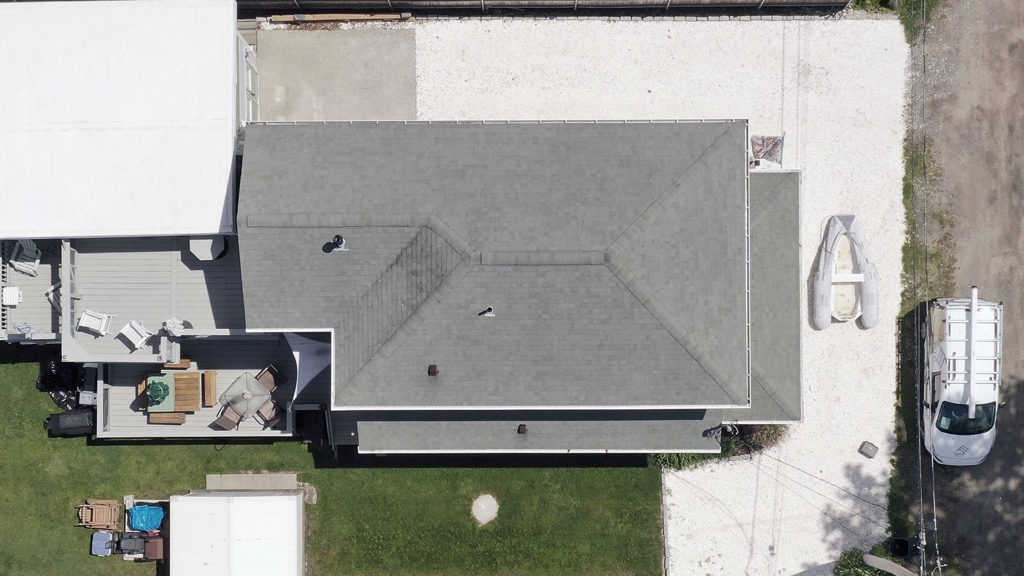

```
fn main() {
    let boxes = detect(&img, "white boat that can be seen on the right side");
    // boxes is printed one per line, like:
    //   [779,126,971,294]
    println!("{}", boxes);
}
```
[815,214,878,329]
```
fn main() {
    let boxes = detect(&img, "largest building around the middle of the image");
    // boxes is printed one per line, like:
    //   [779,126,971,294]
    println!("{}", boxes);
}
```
[238,119,802,456]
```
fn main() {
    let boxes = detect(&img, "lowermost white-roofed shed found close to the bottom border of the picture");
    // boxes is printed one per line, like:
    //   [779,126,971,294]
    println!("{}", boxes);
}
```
[170,488,304,576]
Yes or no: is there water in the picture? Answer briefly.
No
